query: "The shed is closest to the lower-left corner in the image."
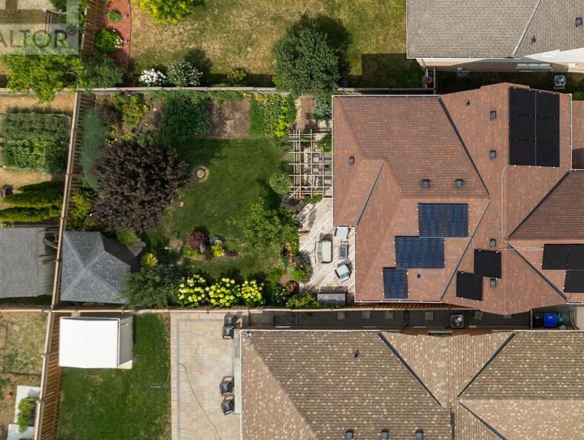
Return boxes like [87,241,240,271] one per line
[59,314,133,369]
